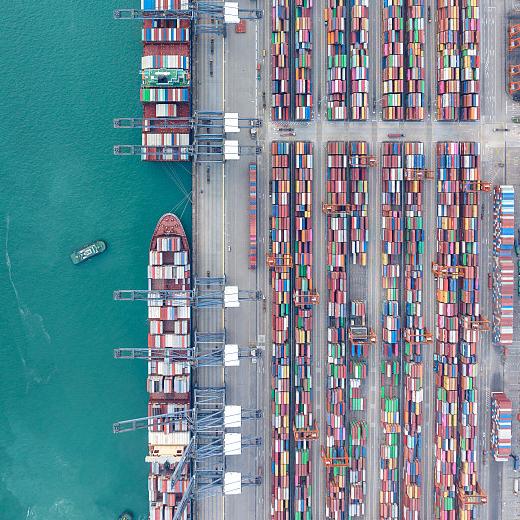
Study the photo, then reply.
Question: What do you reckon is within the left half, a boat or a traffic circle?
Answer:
boat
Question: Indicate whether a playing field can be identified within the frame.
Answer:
No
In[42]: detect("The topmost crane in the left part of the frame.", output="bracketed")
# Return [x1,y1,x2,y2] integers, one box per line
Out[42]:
[113,2,260,41]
